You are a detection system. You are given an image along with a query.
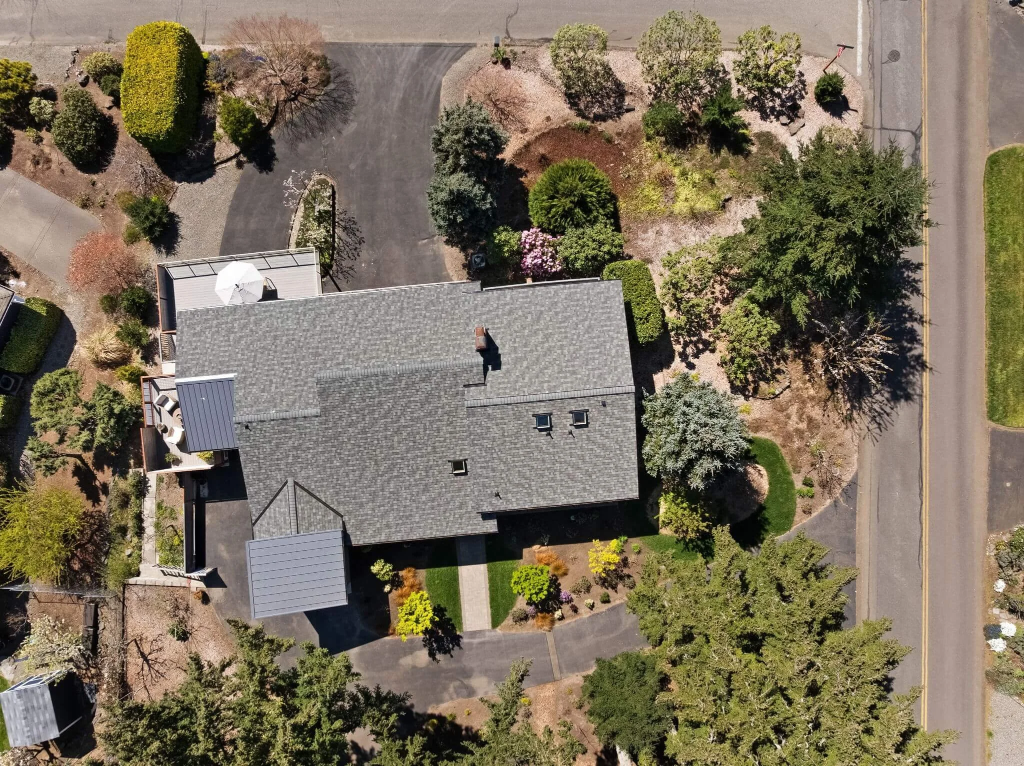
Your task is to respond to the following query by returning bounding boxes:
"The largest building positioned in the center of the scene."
[171,279,638,547]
